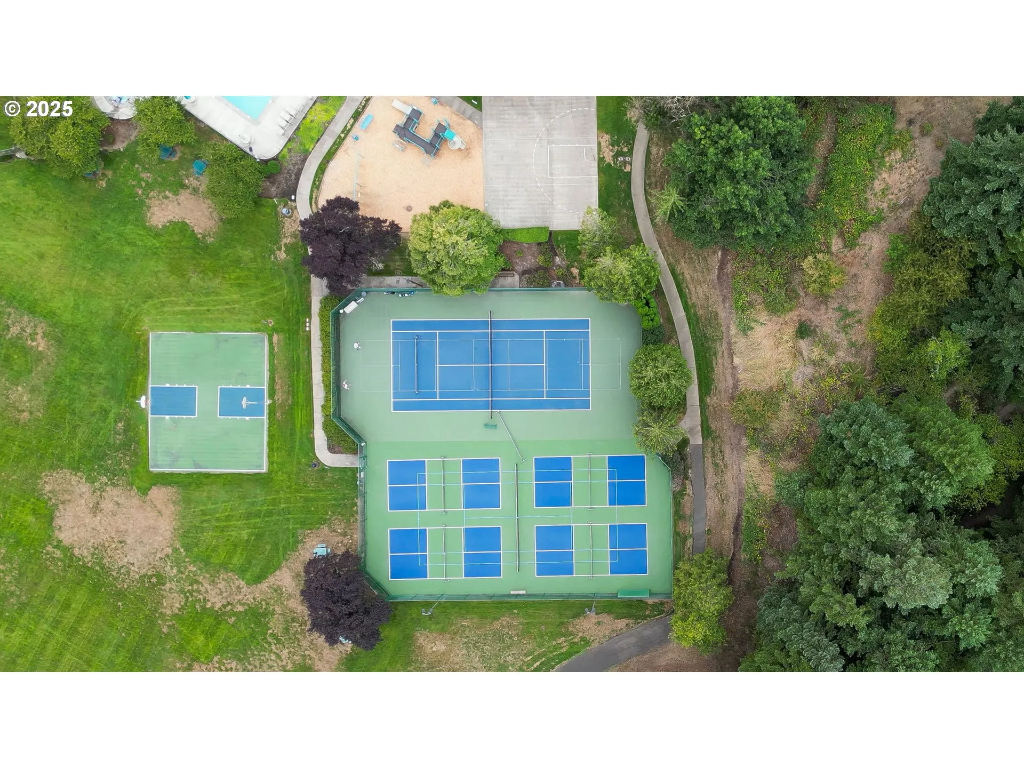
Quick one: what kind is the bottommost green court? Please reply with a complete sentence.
I'd identify the bottommost green court as a tennis court.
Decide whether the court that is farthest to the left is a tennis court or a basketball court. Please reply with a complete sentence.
I'd say the court that is farthest to the left is a basketball court.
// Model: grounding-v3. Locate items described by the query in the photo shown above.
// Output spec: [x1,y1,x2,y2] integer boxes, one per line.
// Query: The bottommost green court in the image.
[366,442,671,594]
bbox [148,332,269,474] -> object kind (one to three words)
basketball court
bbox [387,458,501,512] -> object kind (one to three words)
sports court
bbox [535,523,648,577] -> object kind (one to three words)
sports court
